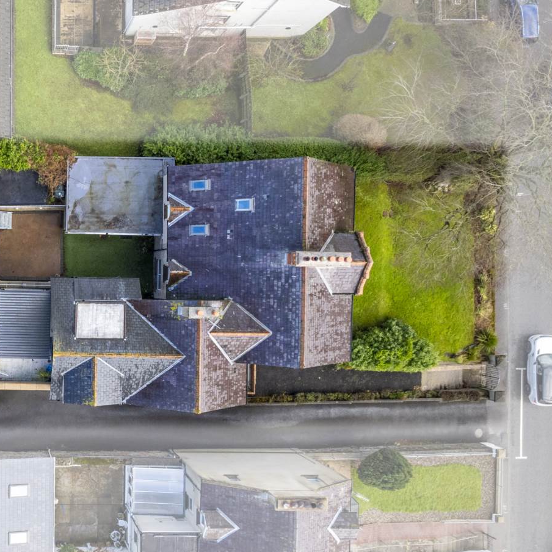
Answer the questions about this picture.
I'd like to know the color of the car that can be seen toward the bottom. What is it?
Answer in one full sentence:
The car that can be seen toward the bottom looks white in the image.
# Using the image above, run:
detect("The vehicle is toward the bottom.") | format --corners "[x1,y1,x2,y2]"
[523,334,552,405]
